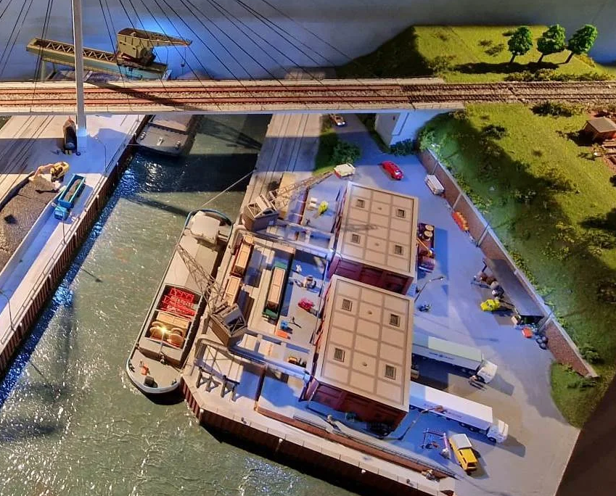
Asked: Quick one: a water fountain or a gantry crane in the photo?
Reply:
gantry crane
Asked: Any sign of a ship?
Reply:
Yes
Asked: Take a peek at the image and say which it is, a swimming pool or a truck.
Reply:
truck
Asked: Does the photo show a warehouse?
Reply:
Yes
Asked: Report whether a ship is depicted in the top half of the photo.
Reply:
Yes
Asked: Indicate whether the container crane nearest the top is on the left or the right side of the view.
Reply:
left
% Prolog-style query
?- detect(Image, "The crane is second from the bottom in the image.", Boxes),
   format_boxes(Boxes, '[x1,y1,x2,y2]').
[232,167,337,259]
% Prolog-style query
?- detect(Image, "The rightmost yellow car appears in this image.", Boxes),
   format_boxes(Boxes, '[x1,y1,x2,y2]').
[478,299,504,311]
